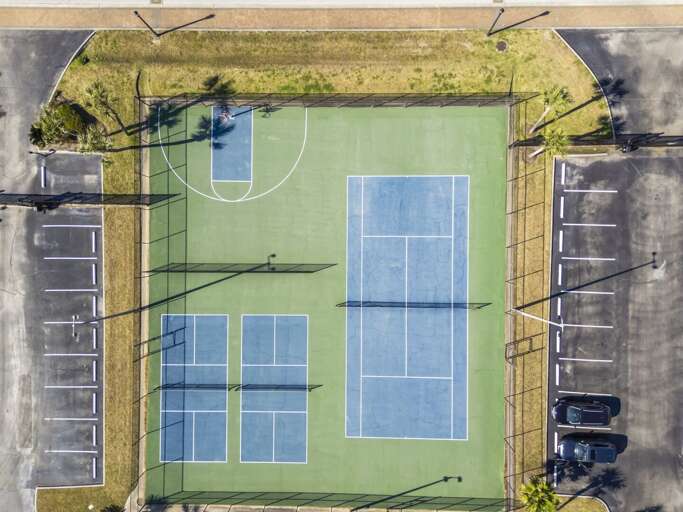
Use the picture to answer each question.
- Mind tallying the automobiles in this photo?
2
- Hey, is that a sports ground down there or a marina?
sports ground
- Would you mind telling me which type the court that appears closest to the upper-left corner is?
basketball court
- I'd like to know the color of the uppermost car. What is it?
black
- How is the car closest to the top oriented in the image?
horizontally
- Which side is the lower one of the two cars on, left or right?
right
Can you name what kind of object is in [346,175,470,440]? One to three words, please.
tennis court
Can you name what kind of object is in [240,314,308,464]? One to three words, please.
sports court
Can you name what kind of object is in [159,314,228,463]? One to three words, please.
sports court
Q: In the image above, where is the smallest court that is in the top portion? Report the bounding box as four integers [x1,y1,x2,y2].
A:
[159,107,306,202]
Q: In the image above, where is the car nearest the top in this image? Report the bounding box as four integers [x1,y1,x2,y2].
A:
[553,402,612,430]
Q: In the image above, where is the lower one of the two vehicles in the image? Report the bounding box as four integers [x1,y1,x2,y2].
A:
[559,439,618,468]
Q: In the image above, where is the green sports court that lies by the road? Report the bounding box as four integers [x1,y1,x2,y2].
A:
[145,105,506,509]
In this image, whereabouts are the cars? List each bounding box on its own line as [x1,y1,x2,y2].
[559,439,618,468]
[553,402,612,430]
